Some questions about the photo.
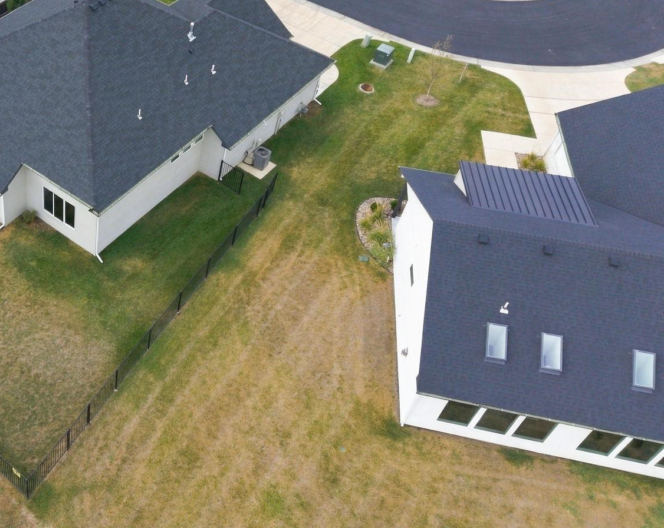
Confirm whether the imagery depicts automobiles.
No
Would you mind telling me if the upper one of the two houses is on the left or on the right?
left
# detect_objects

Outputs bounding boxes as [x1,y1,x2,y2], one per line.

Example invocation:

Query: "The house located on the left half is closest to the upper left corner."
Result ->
[0,0,340,268]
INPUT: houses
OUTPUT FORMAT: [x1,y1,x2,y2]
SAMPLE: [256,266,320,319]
[393,95,664,475]
[0,0,340,268]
